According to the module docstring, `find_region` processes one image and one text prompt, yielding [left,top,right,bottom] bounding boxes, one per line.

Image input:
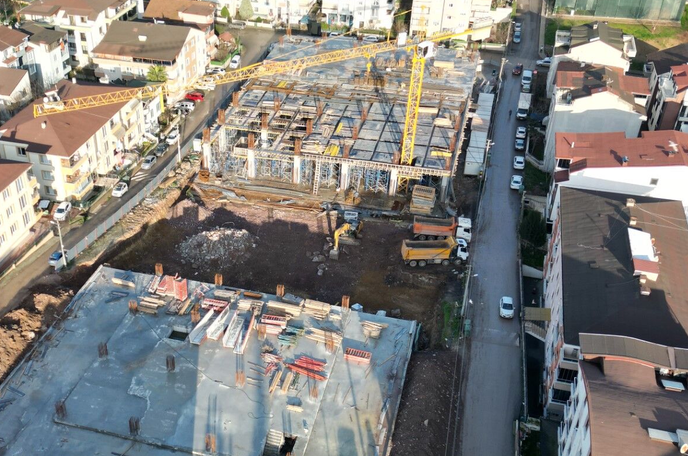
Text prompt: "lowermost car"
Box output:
[499,292,516,318]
